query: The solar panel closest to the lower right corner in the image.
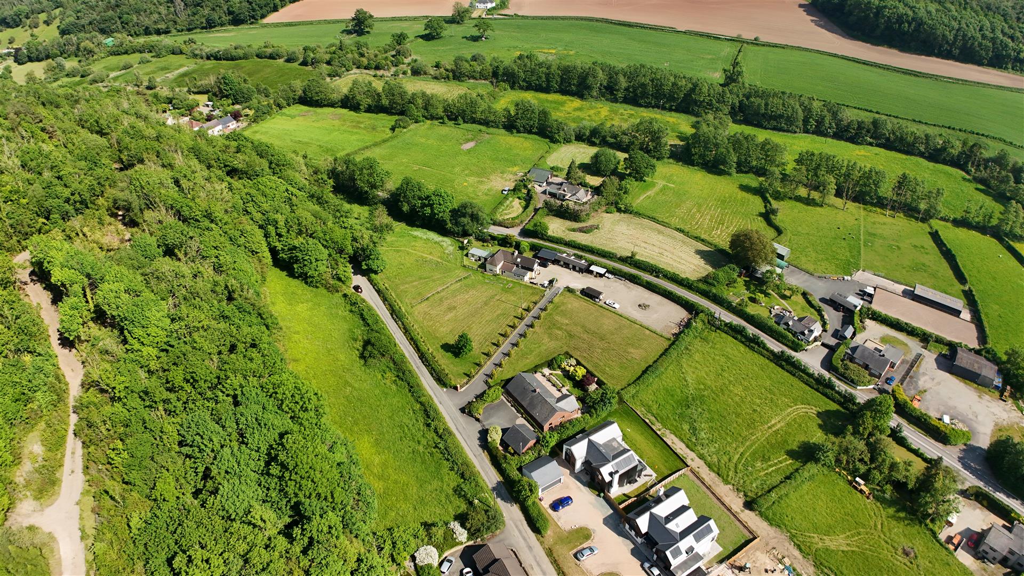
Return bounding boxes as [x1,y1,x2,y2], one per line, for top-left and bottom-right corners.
[693,523,713,544]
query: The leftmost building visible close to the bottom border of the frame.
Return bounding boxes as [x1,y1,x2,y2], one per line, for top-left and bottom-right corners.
[473,539,531,576]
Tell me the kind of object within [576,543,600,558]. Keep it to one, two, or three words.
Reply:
car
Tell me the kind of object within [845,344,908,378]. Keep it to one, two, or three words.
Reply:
house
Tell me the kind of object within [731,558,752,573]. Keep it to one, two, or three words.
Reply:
work vehicle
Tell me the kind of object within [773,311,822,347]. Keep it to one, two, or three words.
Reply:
house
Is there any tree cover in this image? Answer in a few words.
Yes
